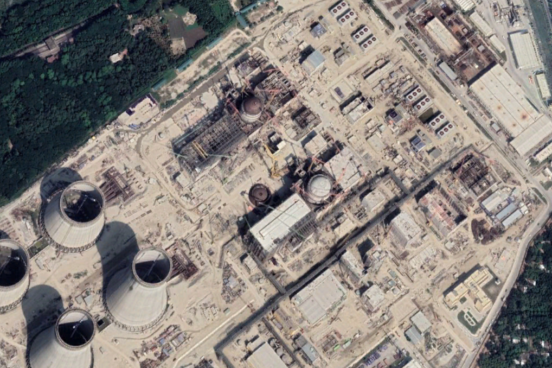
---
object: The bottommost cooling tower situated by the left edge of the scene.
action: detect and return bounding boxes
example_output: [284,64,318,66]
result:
[25,306,97,368]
